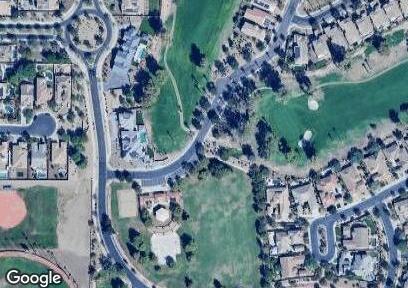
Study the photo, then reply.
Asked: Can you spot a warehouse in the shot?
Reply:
No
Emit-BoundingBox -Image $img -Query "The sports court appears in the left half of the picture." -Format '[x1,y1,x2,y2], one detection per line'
[118,189,138,218]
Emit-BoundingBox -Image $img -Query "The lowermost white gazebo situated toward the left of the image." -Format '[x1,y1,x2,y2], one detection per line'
[156,208,169,223]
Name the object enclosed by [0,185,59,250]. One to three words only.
baseball field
